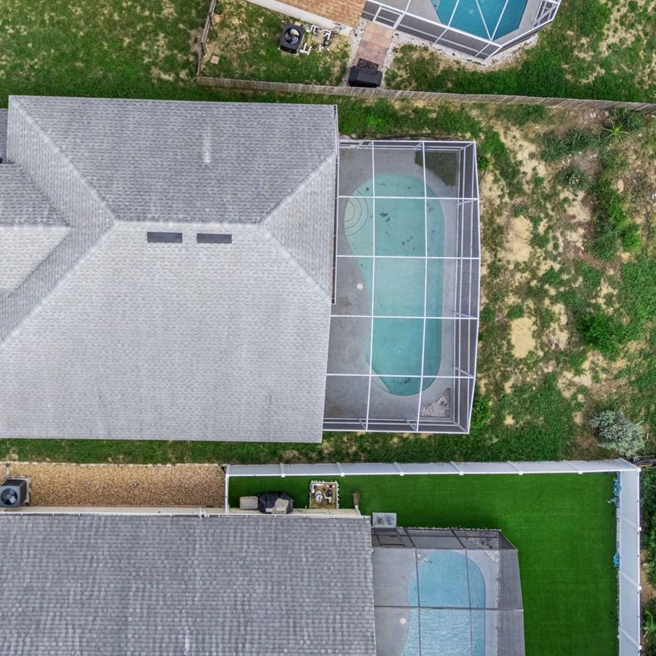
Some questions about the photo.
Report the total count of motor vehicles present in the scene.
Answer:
0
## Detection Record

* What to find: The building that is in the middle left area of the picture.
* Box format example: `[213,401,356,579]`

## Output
[0,94,339,442]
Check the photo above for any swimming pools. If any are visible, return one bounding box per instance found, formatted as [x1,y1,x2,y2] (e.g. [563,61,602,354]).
[340,169,449,399]
[397,549,490,656]
[427,0,532,43]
